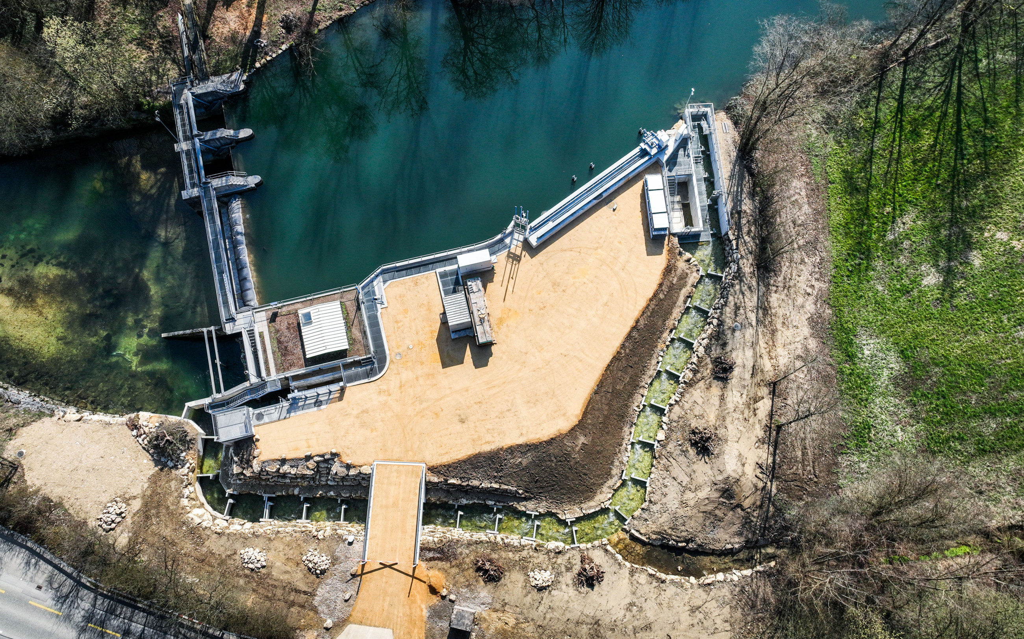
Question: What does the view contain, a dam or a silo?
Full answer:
It is a dam that can be seen here.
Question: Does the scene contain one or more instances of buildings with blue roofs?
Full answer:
No, no building with a blue roof is visible in the view.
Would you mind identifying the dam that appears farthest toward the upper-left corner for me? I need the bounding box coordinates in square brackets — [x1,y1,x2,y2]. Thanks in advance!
[172,67,267,206]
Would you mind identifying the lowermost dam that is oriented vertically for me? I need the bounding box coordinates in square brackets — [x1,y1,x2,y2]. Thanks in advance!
[221,203,260,309]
